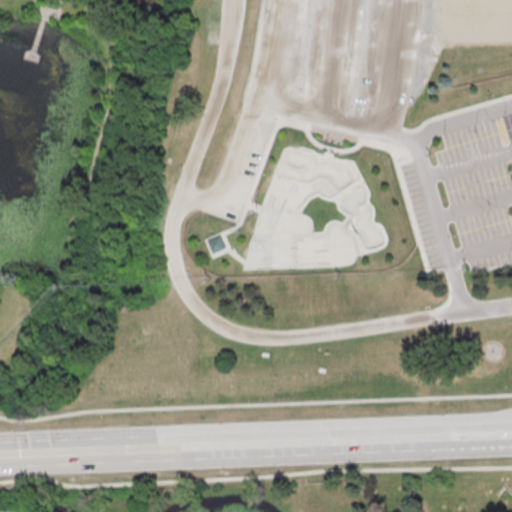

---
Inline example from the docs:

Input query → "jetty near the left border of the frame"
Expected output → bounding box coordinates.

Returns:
[24,7,62,64]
